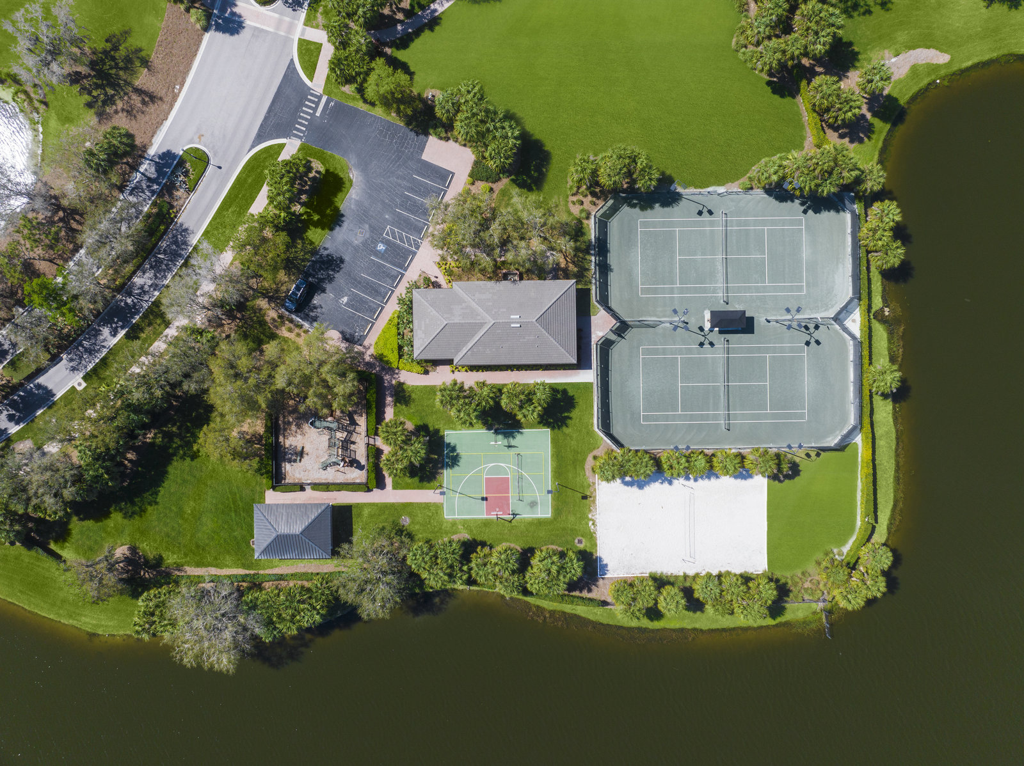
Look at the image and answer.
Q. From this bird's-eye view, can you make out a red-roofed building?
No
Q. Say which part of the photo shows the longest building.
center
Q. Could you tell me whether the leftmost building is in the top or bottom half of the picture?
bottom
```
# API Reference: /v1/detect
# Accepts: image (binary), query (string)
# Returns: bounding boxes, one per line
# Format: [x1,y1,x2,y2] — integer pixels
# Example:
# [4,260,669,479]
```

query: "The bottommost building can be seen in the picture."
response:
[254,503,333,559]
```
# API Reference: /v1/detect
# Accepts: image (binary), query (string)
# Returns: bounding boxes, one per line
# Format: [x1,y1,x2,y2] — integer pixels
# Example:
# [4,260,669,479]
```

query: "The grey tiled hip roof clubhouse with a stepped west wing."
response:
[413,281,578,365]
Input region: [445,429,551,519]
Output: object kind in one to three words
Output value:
basketball court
